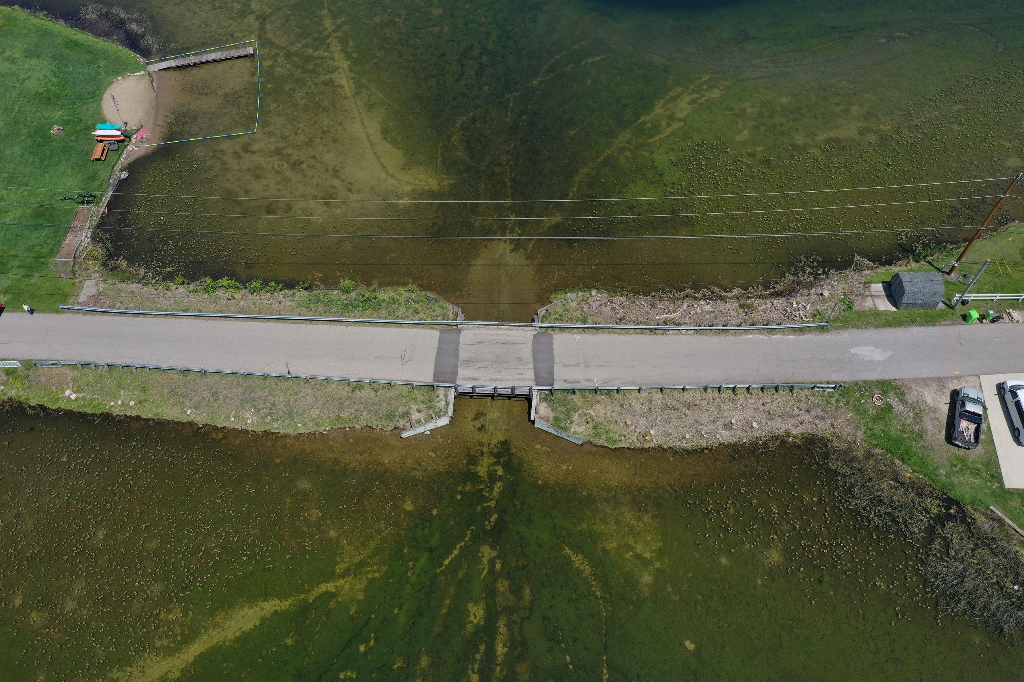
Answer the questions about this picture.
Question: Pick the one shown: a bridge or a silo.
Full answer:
There is a bridge in the scene.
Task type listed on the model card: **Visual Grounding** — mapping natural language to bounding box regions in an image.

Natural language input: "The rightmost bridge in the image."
[454,313,540,427]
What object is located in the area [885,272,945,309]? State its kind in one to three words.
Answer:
shed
